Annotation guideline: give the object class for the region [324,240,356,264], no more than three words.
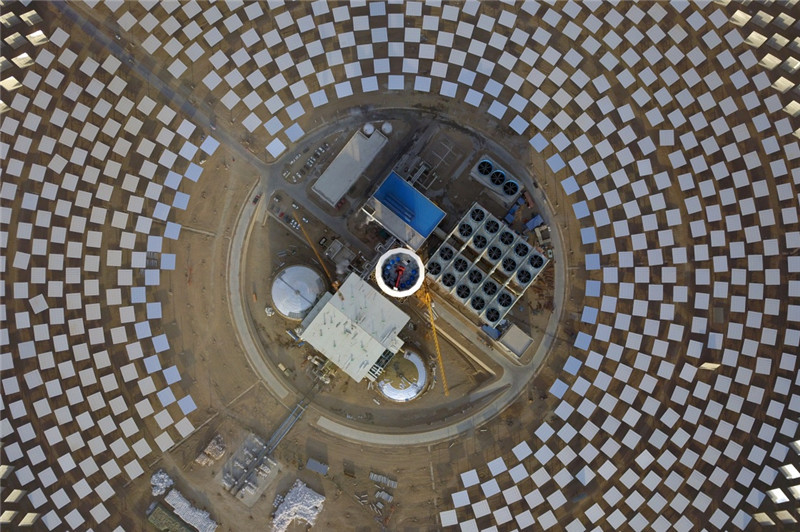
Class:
building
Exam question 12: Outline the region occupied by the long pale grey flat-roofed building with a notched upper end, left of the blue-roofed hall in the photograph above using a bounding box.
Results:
[312,129,389,210]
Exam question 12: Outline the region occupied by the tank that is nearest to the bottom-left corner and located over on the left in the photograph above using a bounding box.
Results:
[272,262,331,321]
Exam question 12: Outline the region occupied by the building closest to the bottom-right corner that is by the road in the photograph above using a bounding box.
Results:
[498,323,533,357]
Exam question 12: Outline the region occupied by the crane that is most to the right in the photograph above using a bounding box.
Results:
[415,263,448,397]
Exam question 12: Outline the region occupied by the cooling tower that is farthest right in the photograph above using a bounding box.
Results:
[465,153,526,217]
